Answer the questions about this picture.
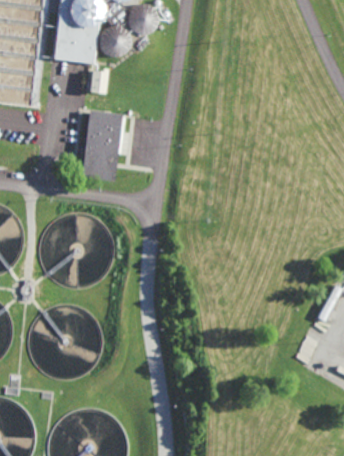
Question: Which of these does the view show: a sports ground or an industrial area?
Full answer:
What you see here is an industrial area.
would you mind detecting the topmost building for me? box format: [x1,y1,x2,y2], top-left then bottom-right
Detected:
[55,0,99,65]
